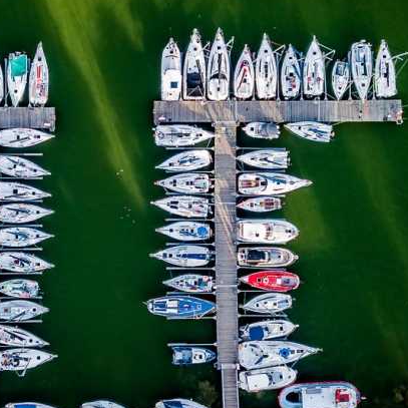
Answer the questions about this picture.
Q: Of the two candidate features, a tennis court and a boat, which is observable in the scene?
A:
boat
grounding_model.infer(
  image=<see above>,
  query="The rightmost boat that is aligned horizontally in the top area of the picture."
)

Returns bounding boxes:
[283,122,338,142]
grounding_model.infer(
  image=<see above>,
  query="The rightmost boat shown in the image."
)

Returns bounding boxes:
[372,39,407,102]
